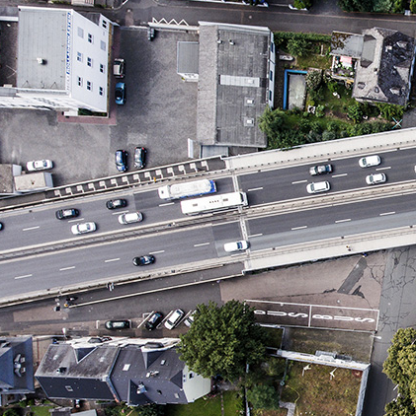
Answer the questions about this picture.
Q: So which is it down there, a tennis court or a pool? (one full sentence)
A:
It is a pool that can be seen here.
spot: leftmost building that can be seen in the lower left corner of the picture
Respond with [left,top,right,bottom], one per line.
[0,328,61,408]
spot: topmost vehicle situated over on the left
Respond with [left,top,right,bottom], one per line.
[113,58,126,78]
